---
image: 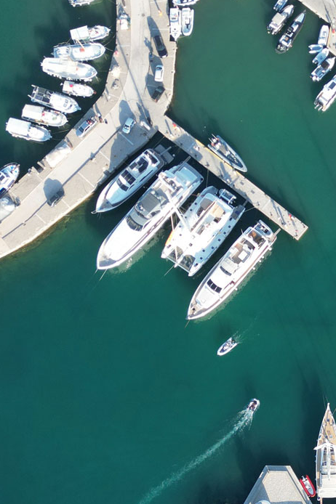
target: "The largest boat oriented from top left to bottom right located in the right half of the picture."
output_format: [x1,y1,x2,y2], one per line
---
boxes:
[207,138,247,172]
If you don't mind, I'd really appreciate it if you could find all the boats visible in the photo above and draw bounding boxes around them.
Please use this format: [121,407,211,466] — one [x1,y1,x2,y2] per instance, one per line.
[207,138,247,172]
[272,0,287,13]
[1,116,68,142]
[247,399,258,413]
[314,401,336,504]
[163,175,257,280]
[38,54,97,81]
[22,83,96,112]
[67,24,109,43]
[276,10,308,53]
[182,6,193,36]
[96,164,221,276]
[311,58,335,82]
[185,207,280,328]
[0,166,17,198]
[174,0,198,6]
[53,40,112,61]
[170,10,181,39]
[268,6,294,35]
[58,79,103,99]
[67,0,97,6]
[19,104,67,128]
[218,336,238,355]
[90,143,171,221]
[299,474,314,496]
[309,45,327,52]
[313,50,328,66]
[316,76,336,109]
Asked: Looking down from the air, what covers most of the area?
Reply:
water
